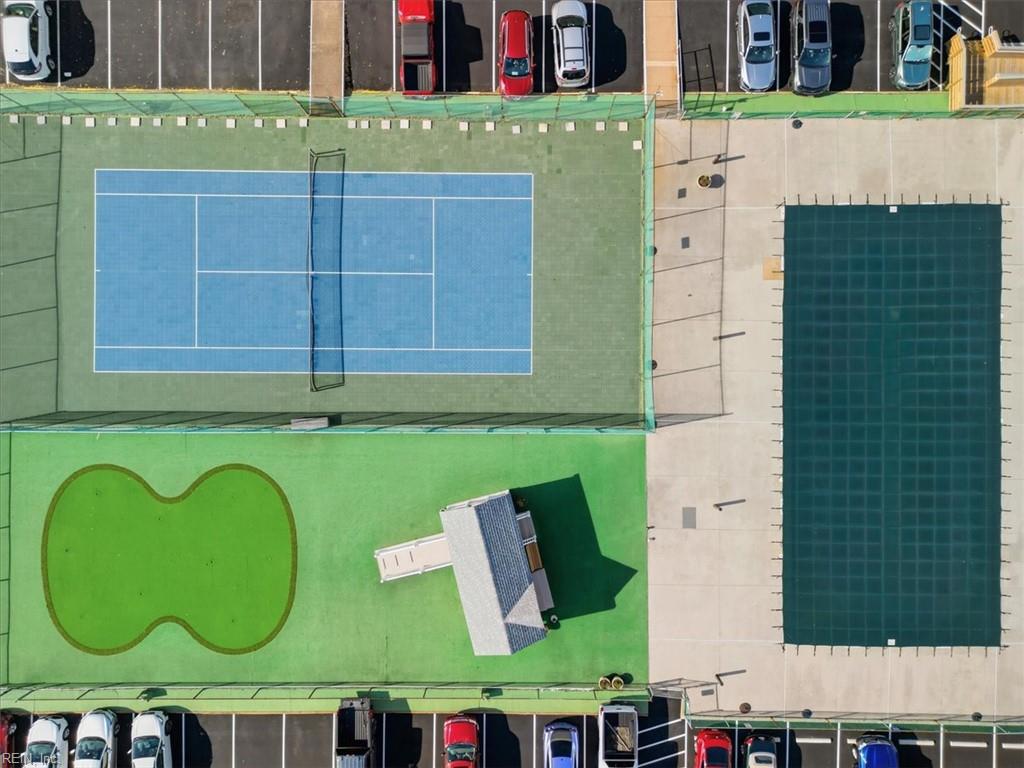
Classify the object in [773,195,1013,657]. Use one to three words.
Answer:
swimming pool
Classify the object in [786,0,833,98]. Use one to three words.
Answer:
car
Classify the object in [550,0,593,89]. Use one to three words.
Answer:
car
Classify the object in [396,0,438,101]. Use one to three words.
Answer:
truck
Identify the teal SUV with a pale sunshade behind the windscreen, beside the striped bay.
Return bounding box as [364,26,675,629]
[886,0,934,93]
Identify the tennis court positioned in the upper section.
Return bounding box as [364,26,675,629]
[0,113,647,430]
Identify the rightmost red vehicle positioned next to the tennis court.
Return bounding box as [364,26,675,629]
[496,8,536,99]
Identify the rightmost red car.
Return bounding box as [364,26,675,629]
[693,726,731,768]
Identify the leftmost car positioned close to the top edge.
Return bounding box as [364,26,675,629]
[3,0,54,84]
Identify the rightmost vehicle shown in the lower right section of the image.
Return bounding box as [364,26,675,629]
[852,733,894,768]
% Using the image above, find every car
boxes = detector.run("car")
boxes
[0,710,17,768]
[22,712,71,768]
[886,0,934,93]
[126,707,173,768]
[737,732,776,768]
[550,0,593,89]
[786,0,833,98]
[3,0,54,84]
[71,707,119,768]
[441,712,481,768]
[496,8,536,99]
[693,726,731,768]
[736,0,780,94]
[852,733,894,768]
[543,721,578,768]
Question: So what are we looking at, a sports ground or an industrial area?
sports ground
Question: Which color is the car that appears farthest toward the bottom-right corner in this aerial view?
blue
